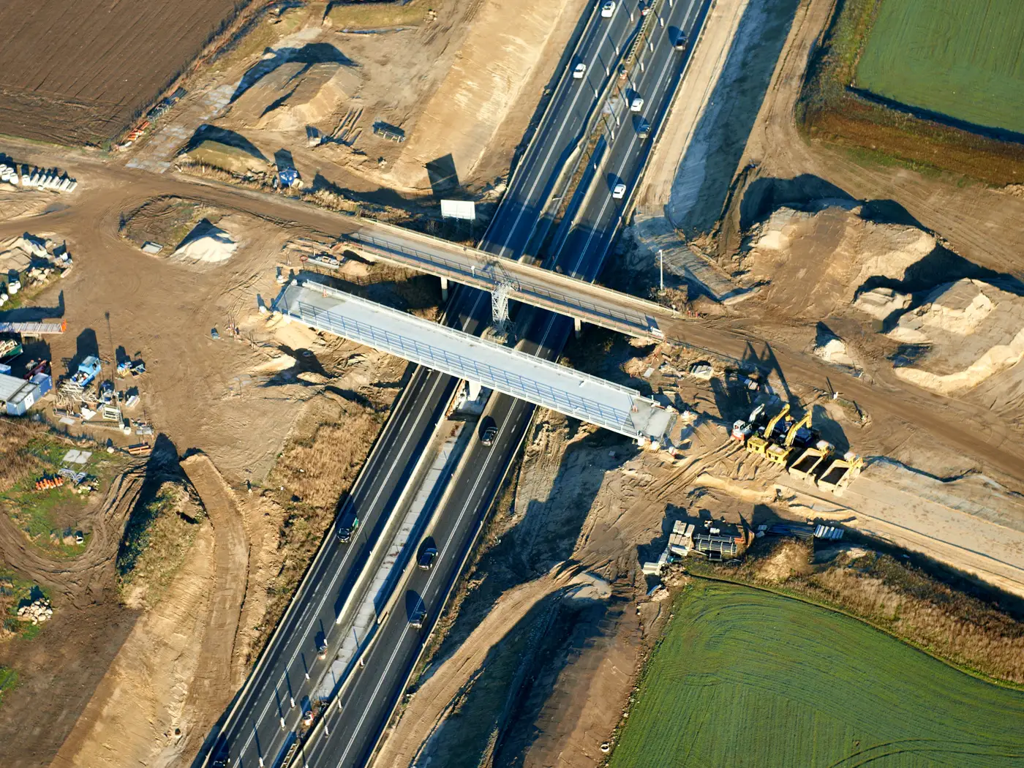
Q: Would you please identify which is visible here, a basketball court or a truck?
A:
truck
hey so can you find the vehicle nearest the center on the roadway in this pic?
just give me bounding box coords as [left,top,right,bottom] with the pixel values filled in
[479,426,497,448]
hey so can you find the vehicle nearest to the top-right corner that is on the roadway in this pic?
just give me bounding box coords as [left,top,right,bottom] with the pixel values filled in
[673,35,687,52]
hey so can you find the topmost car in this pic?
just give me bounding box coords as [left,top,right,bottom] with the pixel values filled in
[602,2,615,18]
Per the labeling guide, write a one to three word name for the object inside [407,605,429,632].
vehicle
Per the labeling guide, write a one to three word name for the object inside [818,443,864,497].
truck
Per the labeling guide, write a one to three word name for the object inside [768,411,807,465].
work vehicle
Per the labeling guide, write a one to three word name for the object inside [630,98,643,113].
vehicle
